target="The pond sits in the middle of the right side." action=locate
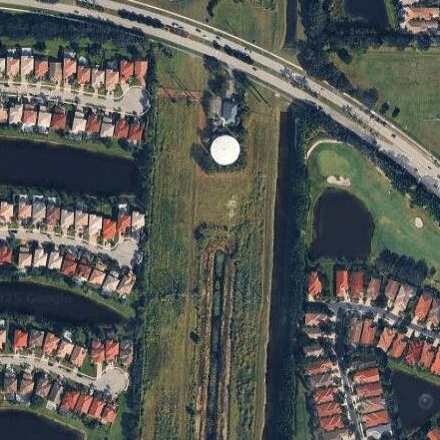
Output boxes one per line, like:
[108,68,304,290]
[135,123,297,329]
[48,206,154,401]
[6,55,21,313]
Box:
[311,187,375,260]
